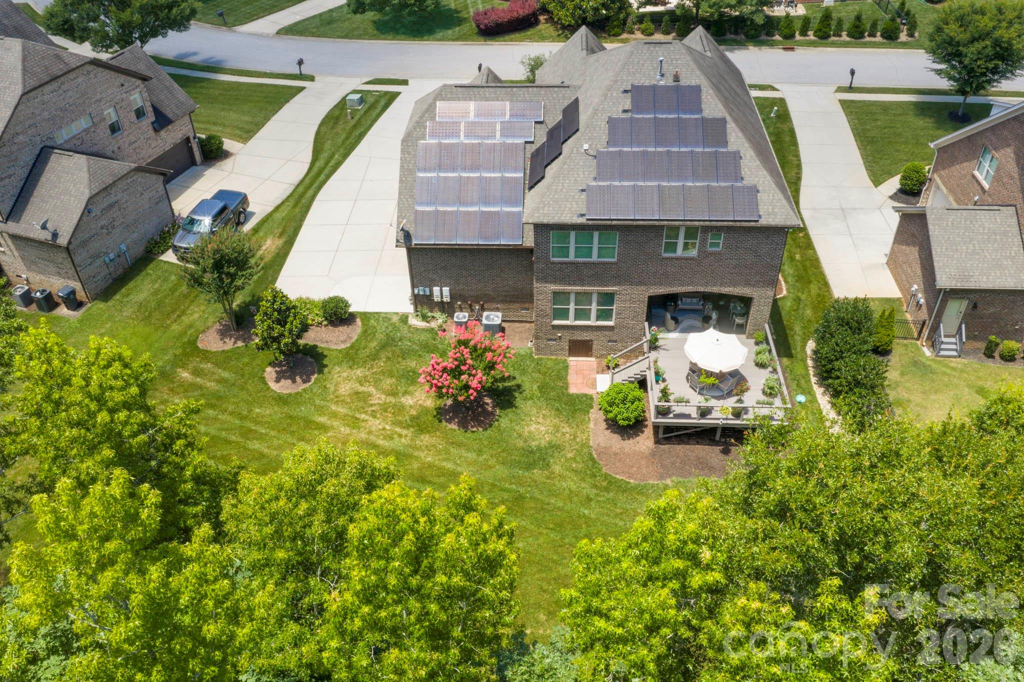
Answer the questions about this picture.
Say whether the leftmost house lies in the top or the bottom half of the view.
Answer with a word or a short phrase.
top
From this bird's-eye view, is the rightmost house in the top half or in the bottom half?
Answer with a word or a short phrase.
top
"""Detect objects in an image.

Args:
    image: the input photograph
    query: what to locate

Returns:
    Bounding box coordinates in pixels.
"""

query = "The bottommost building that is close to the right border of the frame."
[882,101,1024,350]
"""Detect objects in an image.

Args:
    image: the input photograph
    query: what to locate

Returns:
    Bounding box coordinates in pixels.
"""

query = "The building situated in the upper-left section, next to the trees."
[0,0,202,302]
